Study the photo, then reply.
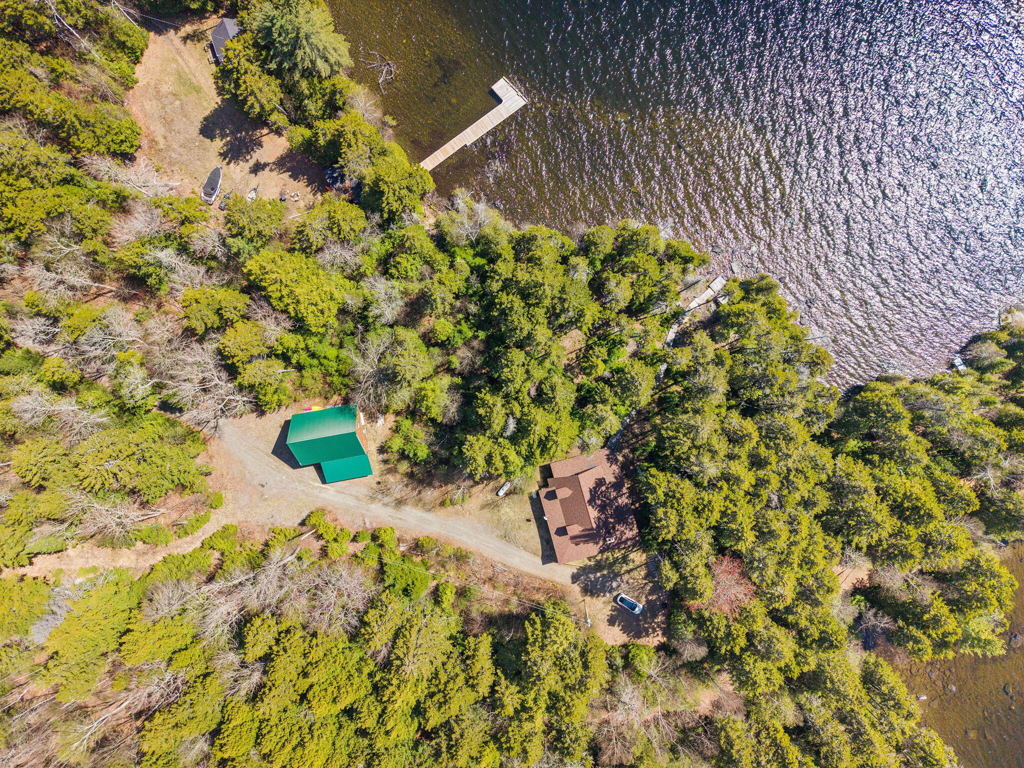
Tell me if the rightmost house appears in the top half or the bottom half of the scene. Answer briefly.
bottom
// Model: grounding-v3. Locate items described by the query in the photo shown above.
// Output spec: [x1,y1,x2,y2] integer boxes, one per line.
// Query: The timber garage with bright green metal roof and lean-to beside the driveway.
[285,402,373,483]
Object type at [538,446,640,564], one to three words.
house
